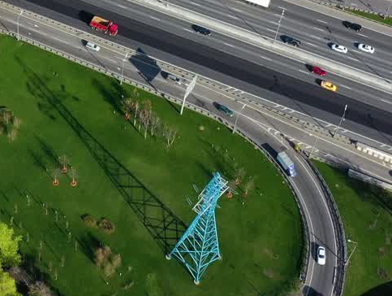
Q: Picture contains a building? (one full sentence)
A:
No, no building is visible in the view.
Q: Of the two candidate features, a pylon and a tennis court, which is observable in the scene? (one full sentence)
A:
Looking from above, you can make out a pylon.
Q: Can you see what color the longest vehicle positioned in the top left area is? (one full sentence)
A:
In this view, the longest vehicle positioned in the top left area is red.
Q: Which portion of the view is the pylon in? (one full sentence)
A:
The pylon appears toward the bottom of the photo.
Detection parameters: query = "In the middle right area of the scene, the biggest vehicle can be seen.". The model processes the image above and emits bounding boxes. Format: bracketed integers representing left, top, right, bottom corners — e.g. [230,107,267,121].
[275,149,298,180]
